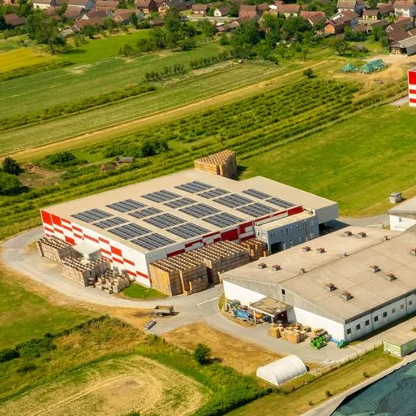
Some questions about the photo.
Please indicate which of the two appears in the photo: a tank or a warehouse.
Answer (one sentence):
There is a warehouse in the scene.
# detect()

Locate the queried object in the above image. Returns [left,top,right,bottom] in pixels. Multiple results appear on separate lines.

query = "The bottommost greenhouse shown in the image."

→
[254,351,309,385]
